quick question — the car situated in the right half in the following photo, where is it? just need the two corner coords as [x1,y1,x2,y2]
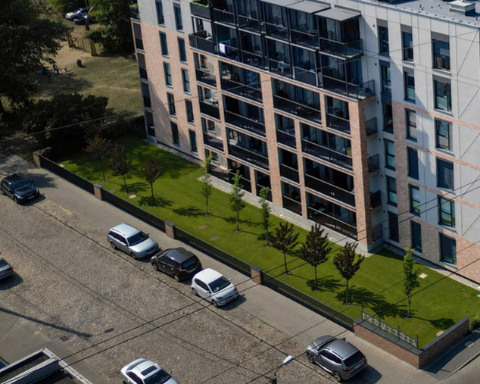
[297,332,363,382]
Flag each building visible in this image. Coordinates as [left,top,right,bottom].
[137,0,480,279]
[0,349,91,384]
